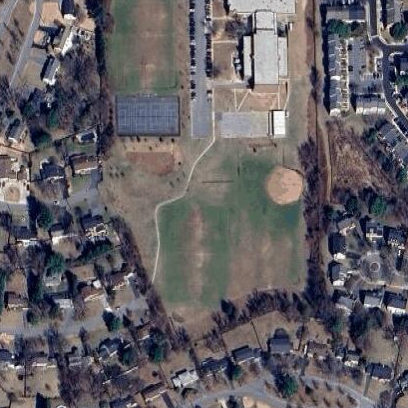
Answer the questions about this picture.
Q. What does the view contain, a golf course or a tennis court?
tennis court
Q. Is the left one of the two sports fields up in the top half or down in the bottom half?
top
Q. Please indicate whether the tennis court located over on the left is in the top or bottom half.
top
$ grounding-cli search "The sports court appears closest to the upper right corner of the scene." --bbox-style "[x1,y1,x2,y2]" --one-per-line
[221,111,269,139]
